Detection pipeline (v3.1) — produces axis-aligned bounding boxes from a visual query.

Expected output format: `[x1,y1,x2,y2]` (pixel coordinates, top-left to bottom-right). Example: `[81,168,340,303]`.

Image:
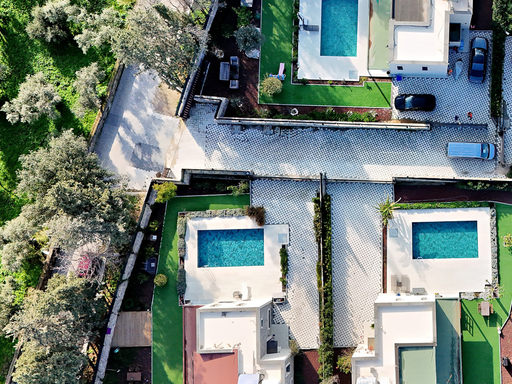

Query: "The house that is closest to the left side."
[182,300,297,384]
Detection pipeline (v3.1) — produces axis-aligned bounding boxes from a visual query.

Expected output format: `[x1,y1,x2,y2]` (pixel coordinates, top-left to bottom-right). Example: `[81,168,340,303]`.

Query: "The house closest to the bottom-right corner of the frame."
[351,296,462,384]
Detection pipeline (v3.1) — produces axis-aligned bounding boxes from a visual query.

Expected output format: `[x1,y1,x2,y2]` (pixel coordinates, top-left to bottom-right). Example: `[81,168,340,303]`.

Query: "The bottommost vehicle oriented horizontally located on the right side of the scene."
[448,140,494,161]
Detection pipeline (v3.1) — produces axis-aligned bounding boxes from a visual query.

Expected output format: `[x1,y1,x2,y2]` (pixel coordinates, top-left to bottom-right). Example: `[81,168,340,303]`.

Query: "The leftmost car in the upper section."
[394,92,436,113]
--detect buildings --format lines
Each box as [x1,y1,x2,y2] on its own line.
[182,300,297,384]
[351,296,462,384]
[367,0,473,77]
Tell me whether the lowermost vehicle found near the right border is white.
No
